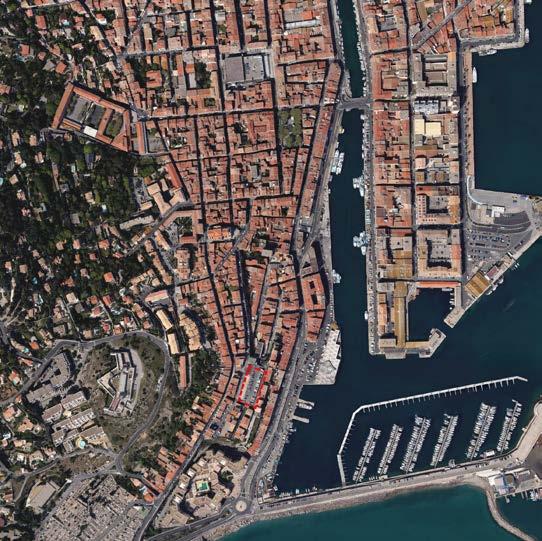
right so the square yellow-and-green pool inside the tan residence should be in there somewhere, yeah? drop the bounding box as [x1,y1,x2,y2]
[195,477,212,497]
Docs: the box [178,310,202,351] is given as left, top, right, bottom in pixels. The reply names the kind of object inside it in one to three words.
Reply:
building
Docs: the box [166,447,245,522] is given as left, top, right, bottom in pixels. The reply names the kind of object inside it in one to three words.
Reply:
house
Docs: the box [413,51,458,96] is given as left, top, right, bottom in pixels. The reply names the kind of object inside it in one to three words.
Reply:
building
